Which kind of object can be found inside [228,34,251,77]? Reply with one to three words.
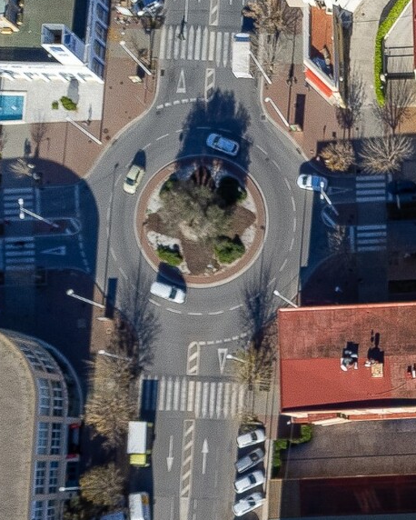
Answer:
truck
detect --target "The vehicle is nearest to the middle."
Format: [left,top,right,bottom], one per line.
[147,282,188,303]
